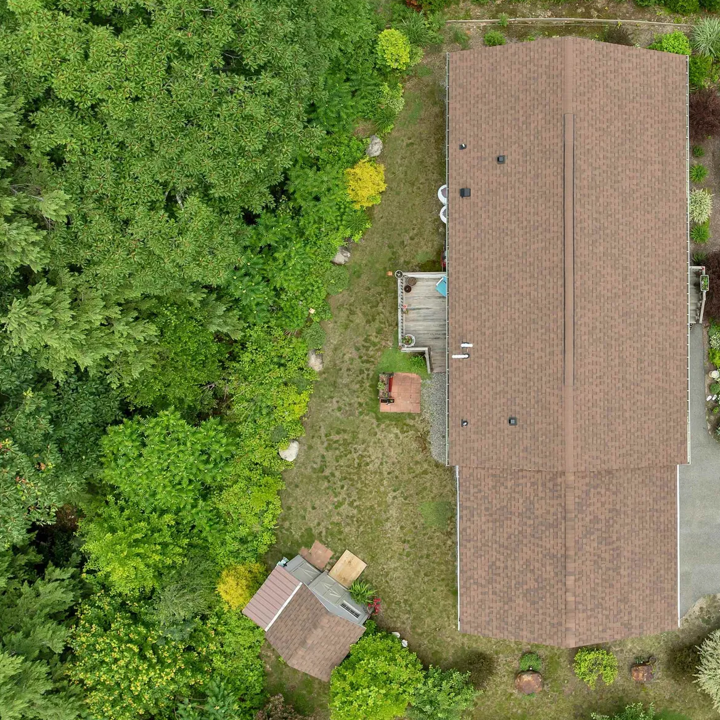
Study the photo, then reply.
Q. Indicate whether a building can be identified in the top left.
No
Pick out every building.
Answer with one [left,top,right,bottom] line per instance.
[447,35,690,646]
[243,556,376,680]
